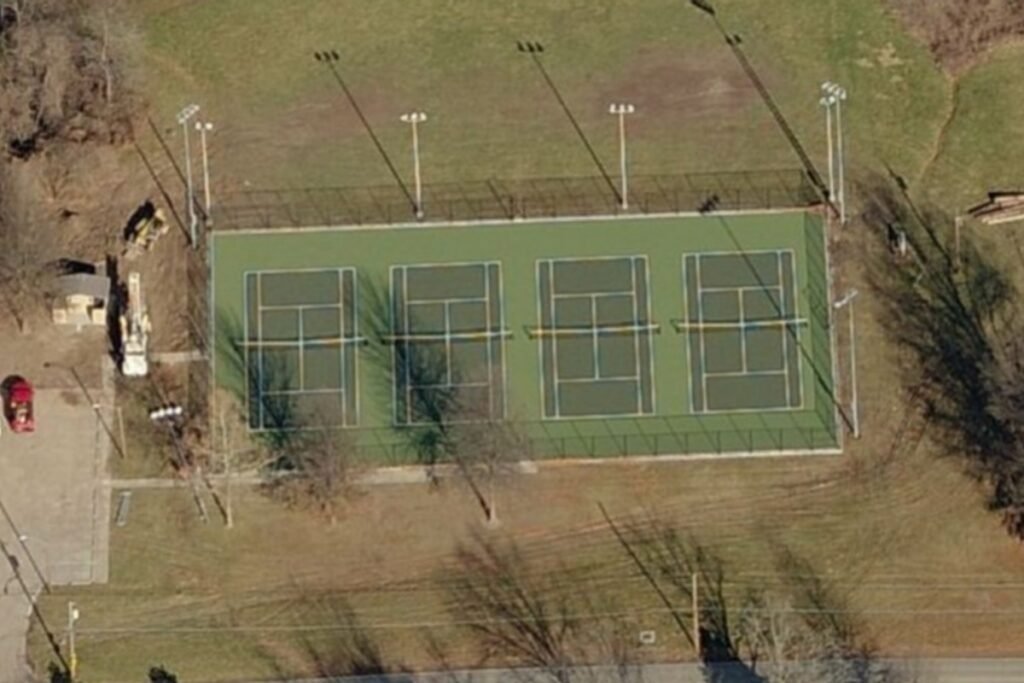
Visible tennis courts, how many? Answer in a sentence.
The photo contains 4 tennis courts.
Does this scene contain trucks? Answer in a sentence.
Yes, the photo shows a truck.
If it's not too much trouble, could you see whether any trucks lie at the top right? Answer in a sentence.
No, no truck appears at the top right.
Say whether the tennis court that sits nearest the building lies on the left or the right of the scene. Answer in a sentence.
It is on the left.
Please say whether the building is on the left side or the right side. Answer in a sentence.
The building is on the left side of the image.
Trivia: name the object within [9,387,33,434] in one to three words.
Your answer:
truck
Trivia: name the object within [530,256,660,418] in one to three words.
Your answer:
tennis court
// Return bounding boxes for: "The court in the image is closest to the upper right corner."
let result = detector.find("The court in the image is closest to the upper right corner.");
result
[678,250,807,412]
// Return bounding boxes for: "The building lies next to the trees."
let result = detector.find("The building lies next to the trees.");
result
[52,273,108,335]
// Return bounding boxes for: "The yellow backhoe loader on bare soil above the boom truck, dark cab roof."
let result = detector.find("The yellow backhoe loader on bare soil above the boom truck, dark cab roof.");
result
[130,212,171,252]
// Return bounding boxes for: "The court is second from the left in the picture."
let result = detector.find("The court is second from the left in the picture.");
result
[383,262,513,425]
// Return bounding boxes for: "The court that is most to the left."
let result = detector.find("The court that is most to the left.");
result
[236,268,366,431]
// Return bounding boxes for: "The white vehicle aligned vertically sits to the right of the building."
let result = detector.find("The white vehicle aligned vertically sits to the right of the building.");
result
[120,269,152,375]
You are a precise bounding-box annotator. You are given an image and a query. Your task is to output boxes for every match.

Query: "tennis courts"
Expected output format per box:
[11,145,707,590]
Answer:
[530,256,660,418]
[383,262,513,425]
[236,268,366,431]
[678,250,807,412]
